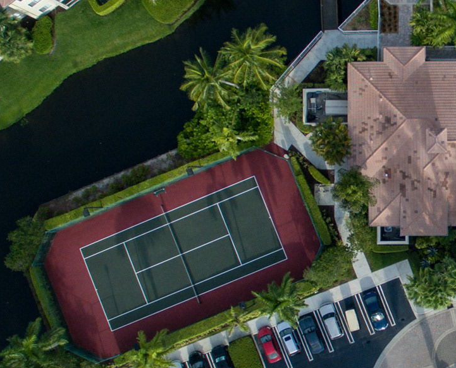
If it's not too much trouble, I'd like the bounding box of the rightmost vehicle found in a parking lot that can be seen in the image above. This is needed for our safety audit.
[364,291,390,331]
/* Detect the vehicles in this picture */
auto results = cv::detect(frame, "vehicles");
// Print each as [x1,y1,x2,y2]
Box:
[319,301,345,341]
[188,349,211,368]
[277,319,302,357]
[257,325,283,363]
[298,312,327,355]
[211,341,236,368]
[364,291,390,331]
[343,302,360,327]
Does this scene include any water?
Yes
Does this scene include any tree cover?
Yes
